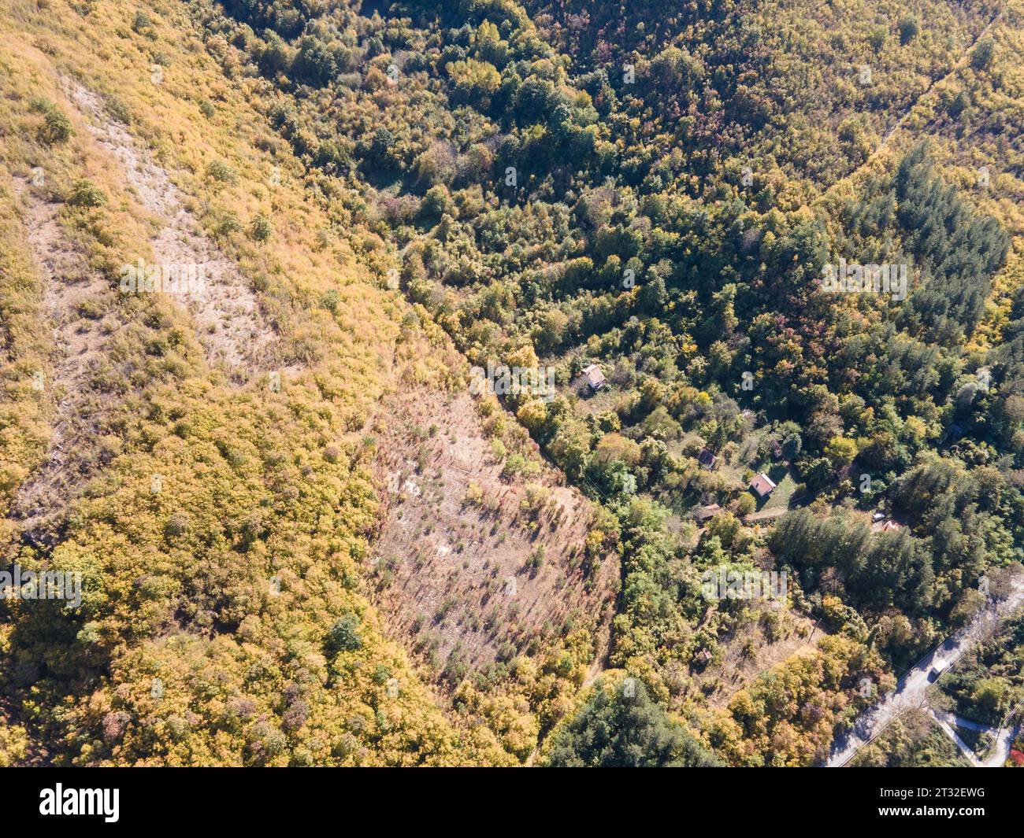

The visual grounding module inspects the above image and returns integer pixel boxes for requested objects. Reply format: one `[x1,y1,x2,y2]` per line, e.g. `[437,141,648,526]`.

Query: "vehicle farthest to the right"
[932,658,952,677]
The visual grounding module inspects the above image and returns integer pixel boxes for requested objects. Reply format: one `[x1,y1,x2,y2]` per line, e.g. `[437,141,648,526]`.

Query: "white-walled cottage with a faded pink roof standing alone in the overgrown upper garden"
[579,370,602,392]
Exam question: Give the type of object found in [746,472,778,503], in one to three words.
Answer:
house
